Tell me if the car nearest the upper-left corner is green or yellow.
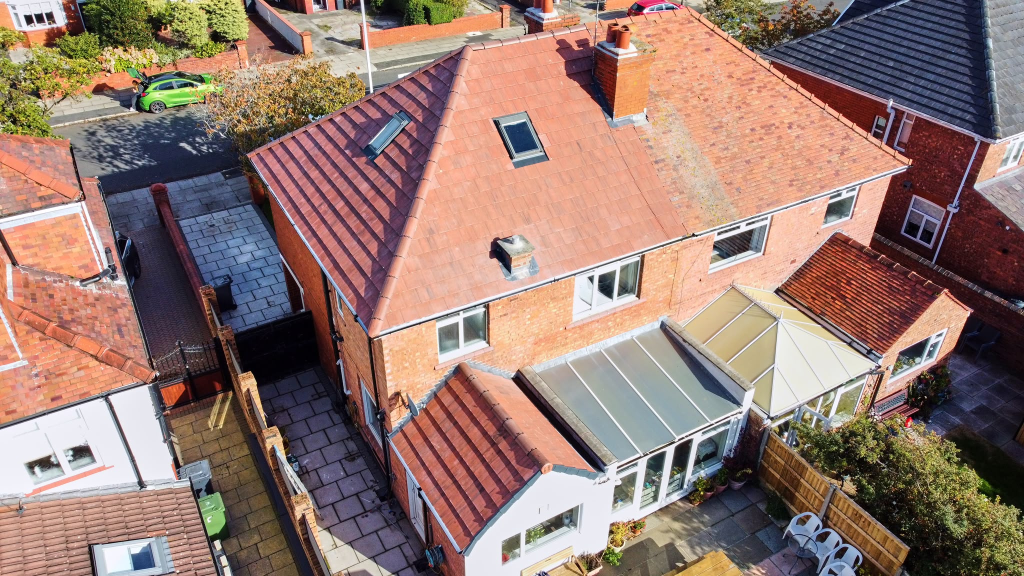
green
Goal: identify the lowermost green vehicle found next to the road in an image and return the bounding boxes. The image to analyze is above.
[119,67,215,115]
